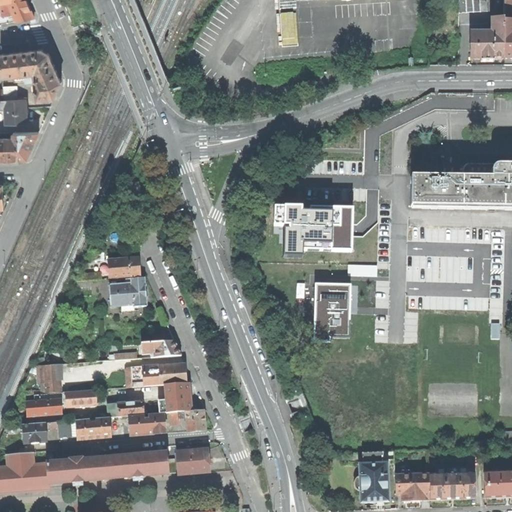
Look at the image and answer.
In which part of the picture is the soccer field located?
bottom right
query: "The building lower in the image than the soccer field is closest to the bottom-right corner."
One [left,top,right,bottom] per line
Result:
[484,470,512,498]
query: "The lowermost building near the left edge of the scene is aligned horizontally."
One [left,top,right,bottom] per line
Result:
[0,450,170,494]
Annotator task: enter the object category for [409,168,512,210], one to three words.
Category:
building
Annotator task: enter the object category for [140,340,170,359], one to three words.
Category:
house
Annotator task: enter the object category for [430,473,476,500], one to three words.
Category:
house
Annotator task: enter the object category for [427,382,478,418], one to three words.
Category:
sports court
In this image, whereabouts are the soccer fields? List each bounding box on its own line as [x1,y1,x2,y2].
[418,313,512,440]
